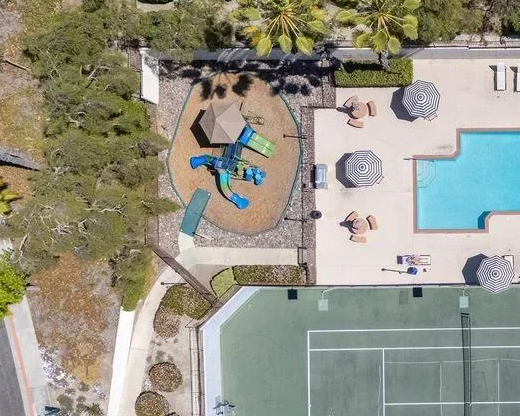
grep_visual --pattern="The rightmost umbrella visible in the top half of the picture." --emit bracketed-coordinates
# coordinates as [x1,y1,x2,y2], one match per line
[402,78,441,117]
